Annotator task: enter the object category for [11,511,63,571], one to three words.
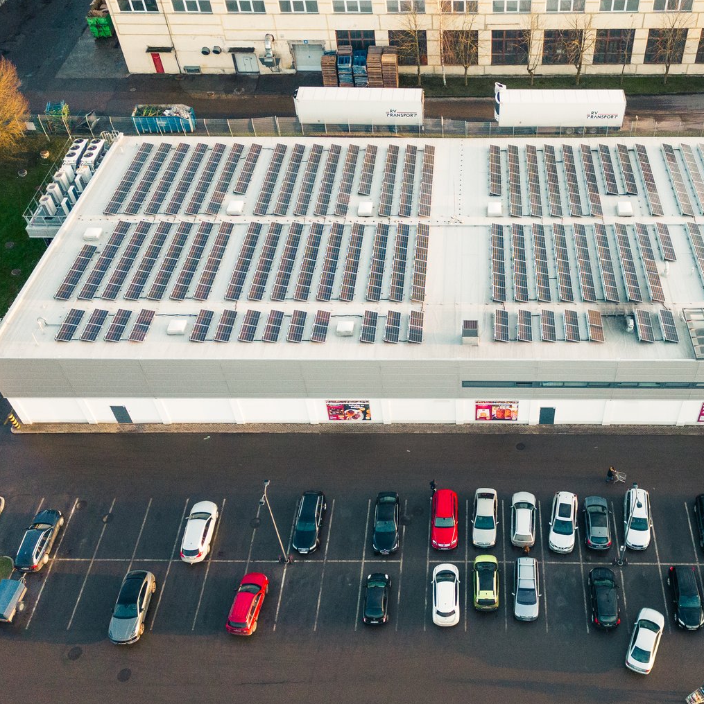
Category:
car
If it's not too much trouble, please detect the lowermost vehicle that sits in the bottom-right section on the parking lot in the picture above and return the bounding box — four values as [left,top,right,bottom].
[625,608,667,677]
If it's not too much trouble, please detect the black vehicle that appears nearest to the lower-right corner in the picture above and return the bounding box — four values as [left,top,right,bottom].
[669,569,704,632]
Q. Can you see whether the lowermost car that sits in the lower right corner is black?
No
